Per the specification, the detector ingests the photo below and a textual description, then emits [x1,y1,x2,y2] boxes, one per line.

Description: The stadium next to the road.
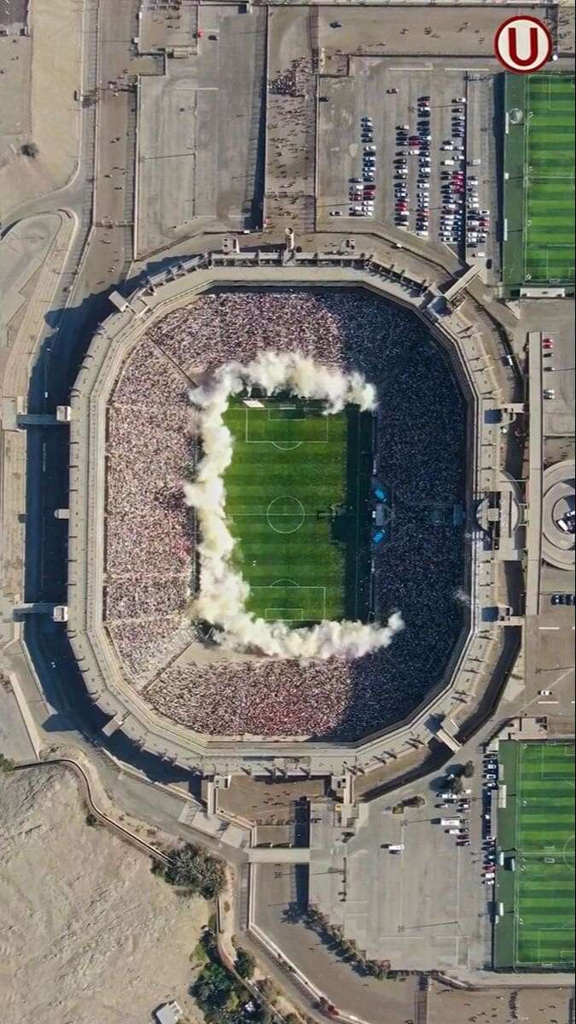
[53,237,528,791]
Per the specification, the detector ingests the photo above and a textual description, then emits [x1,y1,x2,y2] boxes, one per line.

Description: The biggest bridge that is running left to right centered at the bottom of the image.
[247,847,312,862]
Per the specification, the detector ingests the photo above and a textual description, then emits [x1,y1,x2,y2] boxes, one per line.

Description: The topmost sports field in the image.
[503,73,576,294]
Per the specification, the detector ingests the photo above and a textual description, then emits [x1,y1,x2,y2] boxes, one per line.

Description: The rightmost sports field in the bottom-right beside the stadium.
[495,740,576,970]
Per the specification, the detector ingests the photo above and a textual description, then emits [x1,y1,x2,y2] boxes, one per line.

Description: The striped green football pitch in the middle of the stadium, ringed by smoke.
[203,394,370,632]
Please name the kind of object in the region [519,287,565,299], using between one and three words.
building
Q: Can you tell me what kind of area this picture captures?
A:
sports ground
